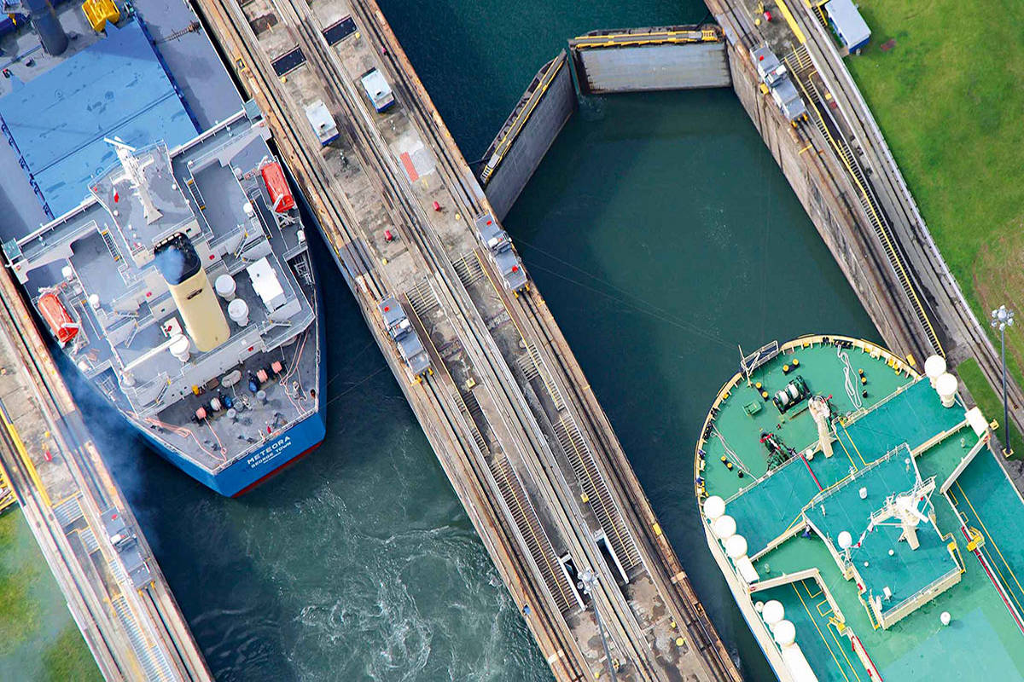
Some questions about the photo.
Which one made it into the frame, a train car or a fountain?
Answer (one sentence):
Of the two, only a train car appears.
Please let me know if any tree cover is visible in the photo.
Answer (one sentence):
No, no tree cover is visible.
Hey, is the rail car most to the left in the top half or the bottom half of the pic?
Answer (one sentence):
The bottom half of the photo is where the rail car most to the left is.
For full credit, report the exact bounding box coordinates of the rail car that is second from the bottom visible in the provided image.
[378,297,436,385]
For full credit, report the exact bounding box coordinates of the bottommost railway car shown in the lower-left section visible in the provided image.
[100,506,157,597]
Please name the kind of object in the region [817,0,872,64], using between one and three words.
shed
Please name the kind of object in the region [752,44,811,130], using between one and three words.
rail car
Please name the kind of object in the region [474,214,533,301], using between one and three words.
rail car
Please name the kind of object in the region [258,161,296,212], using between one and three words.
boat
